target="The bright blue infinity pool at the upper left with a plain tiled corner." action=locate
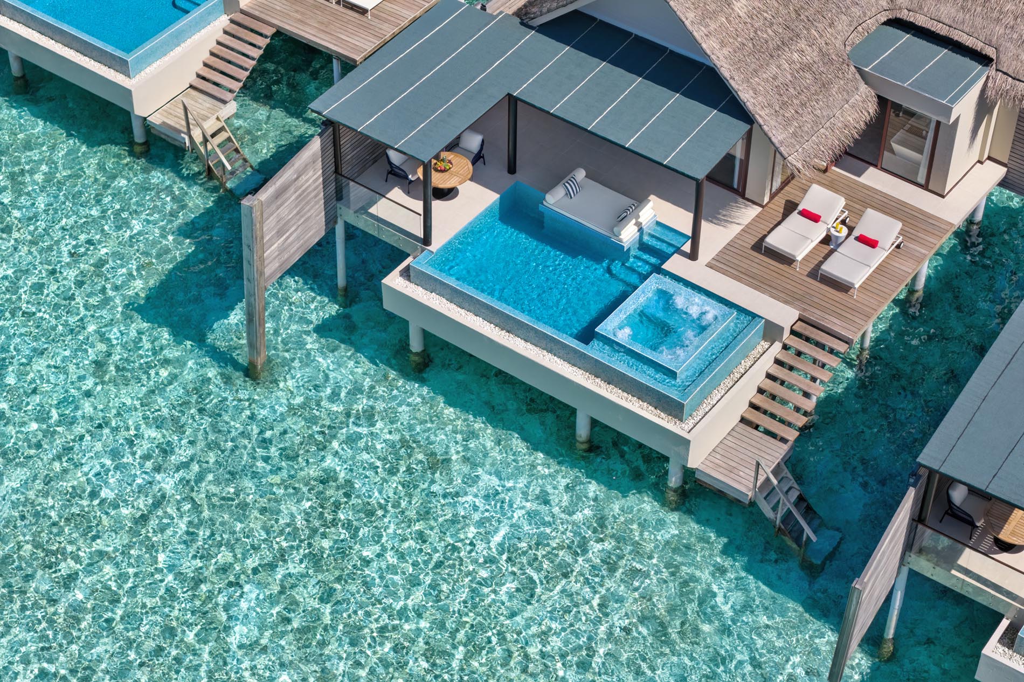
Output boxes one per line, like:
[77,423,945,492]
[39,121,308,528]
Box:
[0,0,233,141]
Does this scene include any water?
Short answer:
Yes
